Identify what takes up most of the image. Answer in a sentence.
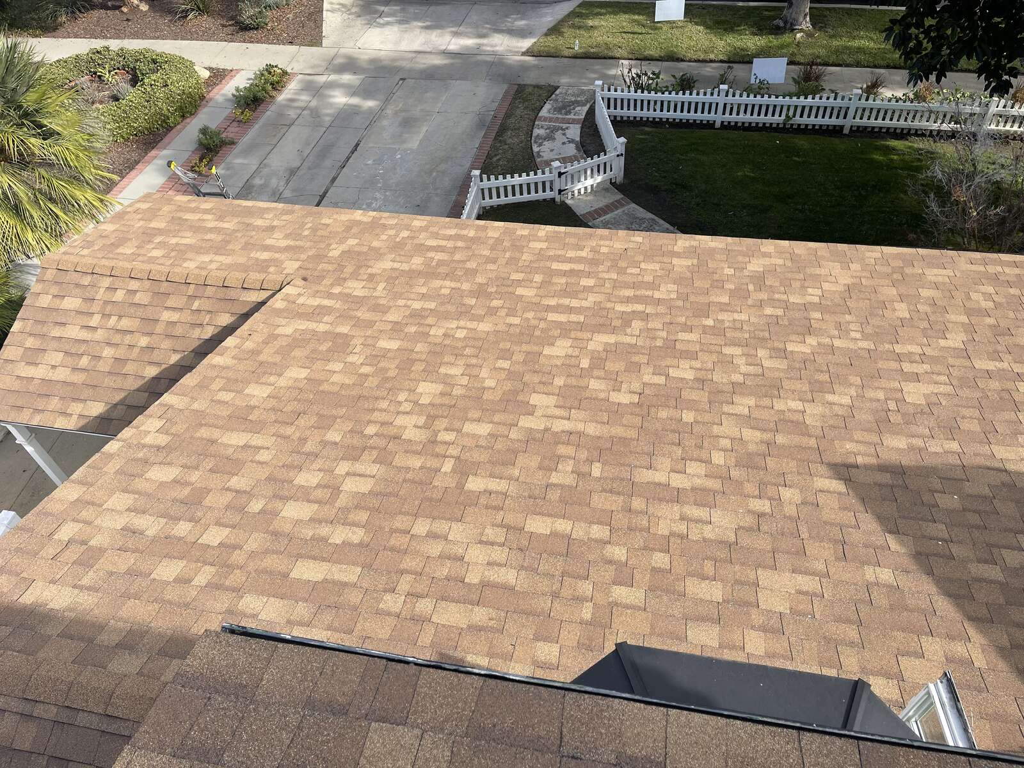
The scene is dominated by buildings.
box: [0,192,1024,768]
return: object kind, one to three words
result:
house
